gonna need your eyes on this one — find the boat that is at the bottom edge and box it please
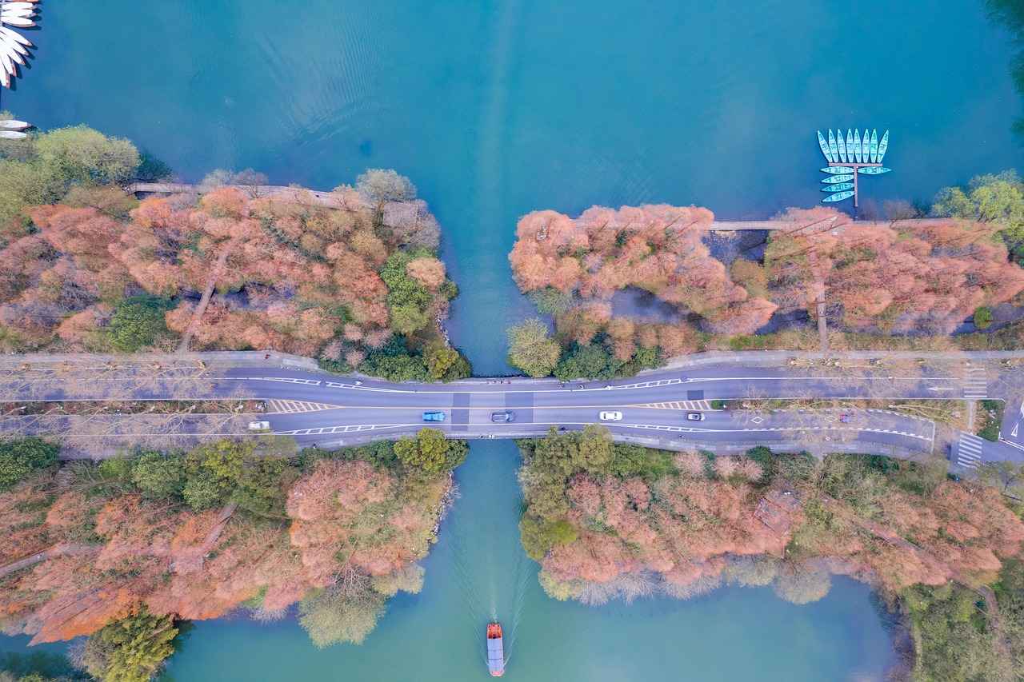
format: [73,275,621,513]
[487,621,504,681]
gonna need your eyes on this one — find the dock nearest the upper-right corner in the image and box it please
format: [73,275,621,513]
[828,162,883,219]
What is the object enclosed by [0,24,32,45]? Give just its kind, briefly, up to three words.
boat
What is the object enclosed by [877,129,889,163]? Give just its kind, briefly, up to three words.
boat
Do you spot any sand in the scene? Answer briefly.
No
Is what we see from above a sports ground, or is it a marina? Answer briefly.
marina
